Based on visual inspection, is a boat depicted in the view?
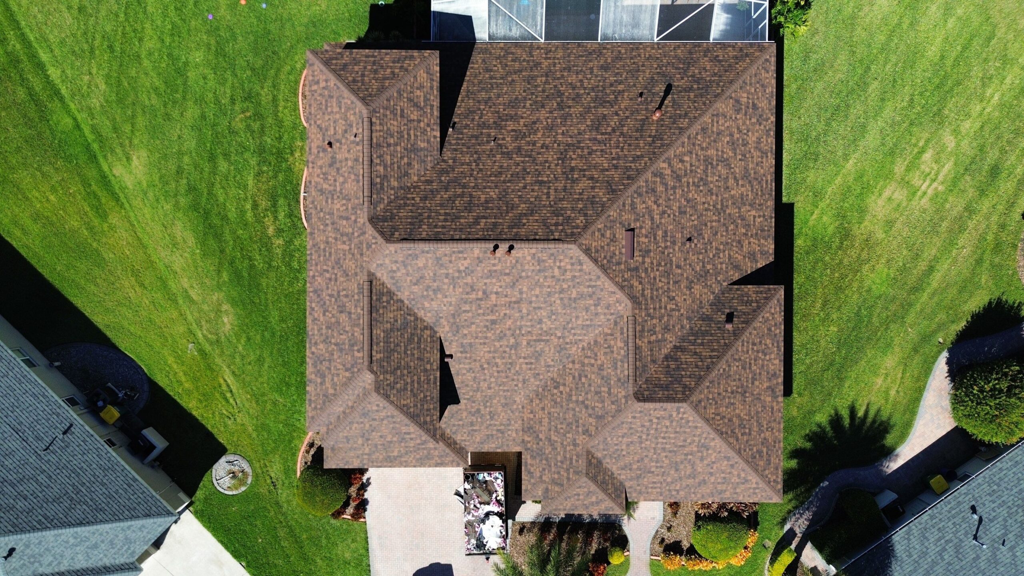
No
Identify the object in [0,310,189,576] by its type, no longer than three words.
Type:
house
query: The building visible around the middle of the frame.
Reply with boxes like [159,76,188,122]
[301,40,783,514]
